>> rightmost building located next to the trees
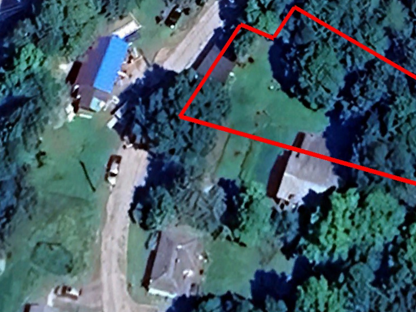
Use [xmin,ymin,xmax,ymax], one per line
[278,130,354,214]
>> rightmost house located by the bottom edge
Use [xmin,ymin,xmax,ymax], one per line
[144,229,205,301]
